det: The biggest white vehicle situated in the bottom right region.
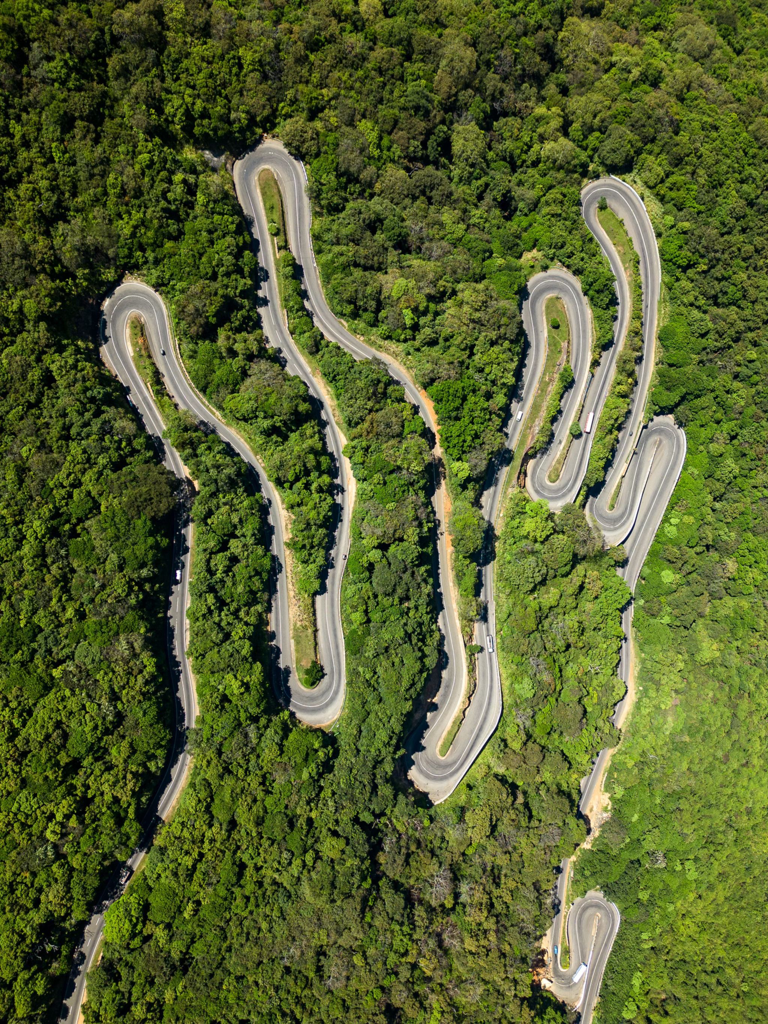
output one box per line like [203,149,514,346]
[573,961,586,982]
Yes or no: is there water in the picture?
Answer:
No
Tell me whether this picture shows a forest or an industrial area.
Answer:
forest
